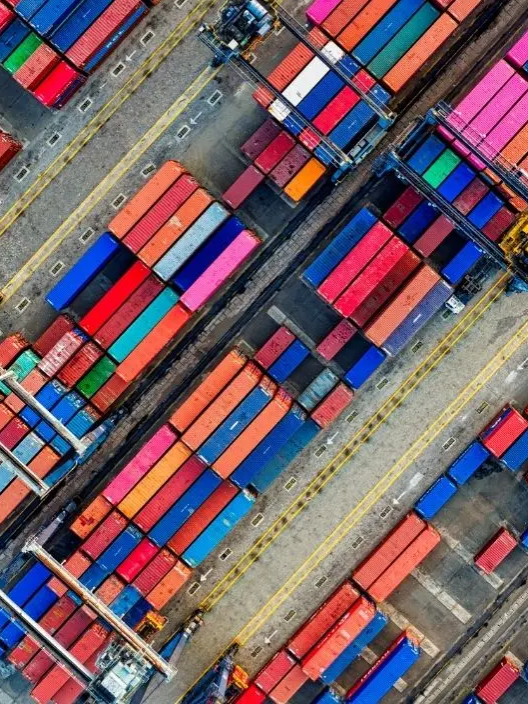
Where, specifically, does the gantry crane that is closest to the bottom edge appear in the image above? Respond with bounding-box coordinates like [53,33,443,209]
[171,644,251,704]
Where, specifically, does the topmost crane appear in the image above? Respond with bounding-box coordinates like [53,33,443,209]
[193,0,402,176]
